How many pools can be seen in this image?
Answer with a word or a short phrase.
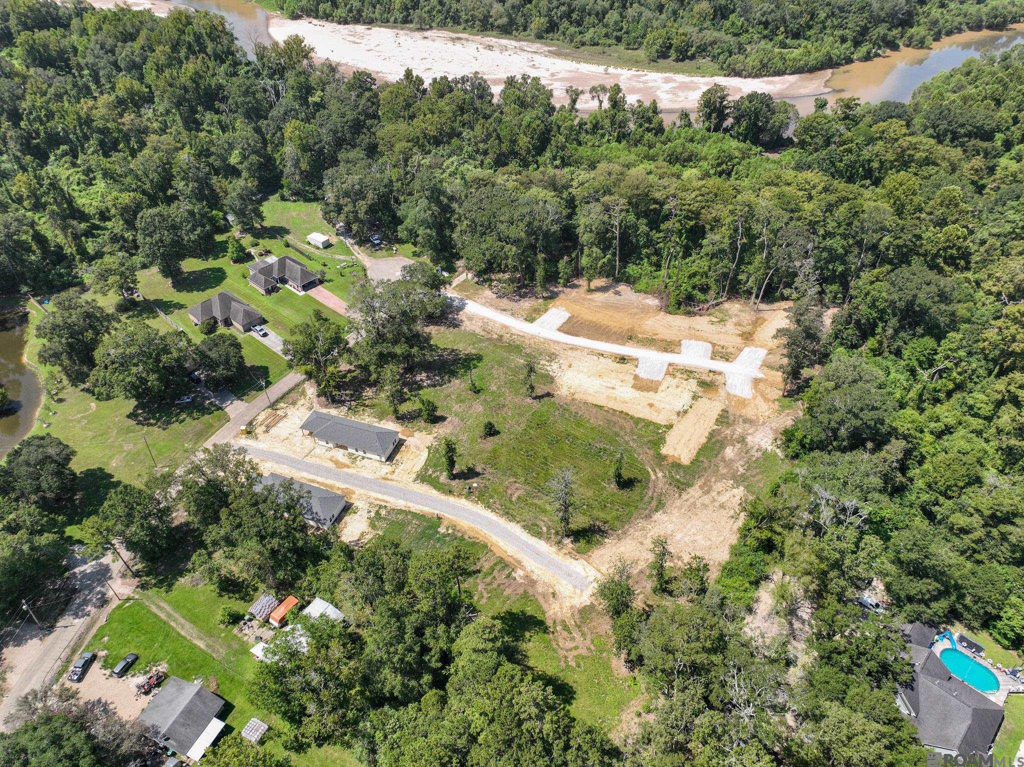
one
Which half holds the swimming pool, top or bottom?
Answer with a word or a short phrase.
bottom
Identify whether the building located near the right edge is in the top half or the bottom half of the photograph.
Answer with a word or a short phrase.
bottom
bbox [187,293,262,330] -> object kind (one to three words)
house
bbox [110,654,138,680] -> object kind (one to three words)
car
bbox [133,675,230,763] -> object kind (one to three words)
house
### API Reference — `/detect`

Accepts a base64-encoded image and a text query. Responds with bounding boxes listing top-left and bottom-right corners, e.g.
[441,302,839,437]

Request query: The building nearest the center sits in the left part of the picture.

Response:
[299,409,401,463]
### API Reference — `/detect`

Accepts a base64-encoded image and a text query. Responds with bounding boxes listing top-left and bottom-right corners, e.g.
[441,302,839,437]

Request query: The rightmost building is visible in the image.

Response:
[889,618,1004,767]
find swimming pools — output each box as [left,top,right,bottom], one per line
[931,642,1009,701]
